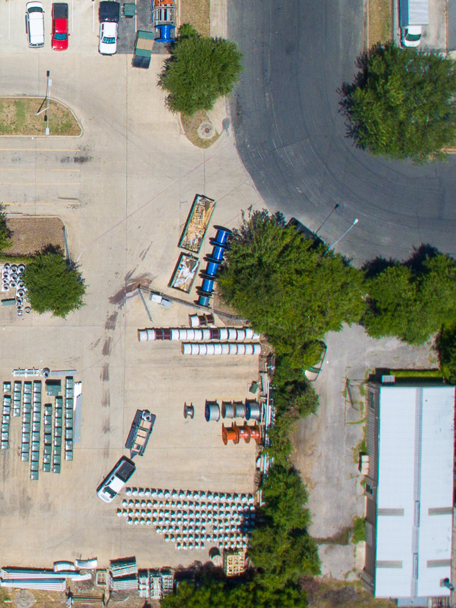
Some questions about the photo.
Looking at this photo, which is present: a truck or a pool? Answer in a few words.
truck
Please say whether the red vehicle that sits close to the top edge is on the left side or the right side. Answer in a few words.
left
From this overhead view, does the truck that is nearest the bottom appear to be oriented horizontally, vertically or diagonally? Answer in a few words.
diagonally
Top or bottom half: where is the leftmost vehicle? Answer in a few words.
top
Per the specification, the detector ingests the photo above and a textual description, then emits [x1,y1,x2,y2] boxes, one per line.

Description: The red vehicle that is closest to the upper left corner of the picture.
[50,2,70,52]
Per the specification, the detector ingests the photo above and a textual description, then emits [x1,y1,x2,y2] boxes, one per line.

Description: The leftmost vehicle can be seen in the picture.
[25,2,45,50]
